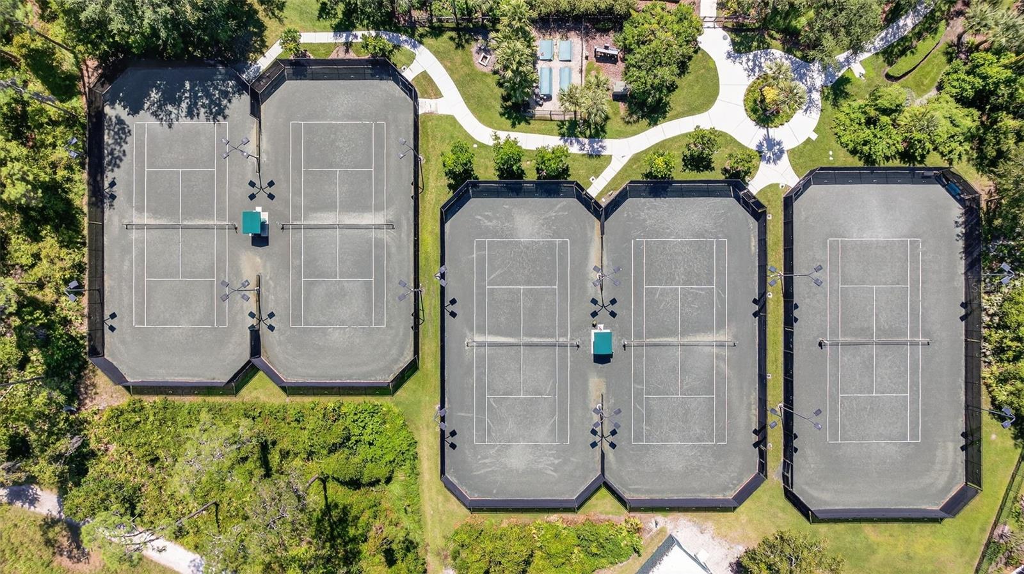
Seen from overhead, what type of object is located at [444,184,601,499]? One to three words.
tennis court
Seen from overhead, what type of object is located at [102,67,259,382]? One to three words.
tennis court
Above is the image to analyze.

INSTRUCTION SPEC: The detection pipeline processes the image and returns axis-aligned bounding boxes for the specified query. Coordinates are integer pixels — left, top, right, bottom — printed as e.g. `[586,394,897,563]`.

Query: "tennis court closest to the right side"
[784,171,965,510]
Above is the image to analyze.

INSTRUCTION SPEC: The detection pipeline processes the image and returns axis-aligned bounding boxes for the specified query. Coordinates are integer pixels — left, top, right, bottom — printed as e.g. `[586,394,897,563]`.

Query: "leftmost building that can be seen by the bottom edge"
[628,533,713,574]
